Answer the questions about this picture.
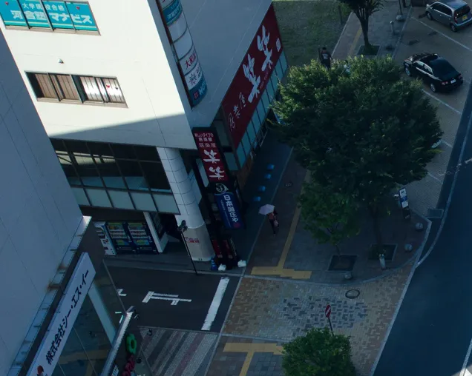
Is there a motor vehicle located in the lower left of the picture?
No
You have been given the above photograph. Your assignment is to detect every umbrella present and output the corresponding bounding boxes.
[256,201,275,214]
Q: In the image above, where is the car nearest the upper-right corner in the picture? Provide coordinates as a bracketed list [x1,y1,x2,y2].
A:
[416,0,470,35]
